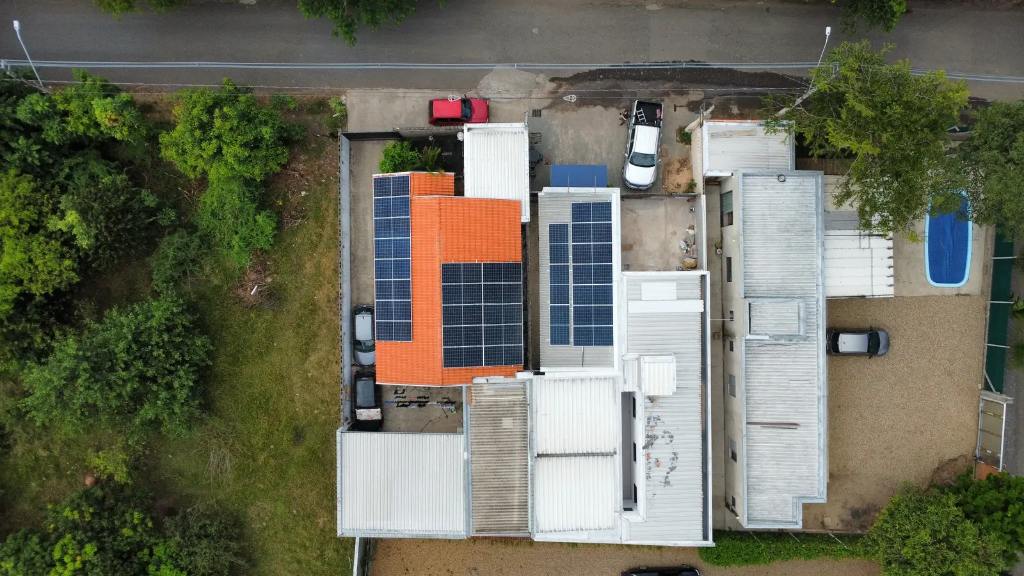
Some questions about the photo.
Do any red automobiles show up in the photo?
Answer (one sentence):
Yes, the photo shows a red automobile.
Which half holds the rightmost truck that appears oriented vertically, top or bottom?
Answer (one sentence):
You can find the rightmost truck that appears oriented vertically in the top half.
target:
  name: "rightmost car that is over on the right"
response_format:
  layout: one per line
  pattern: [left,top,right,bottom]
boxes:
[825,326,890,361]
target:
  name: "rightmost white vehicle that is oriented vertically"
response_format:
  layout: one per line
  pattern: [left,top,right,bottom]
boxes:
[625,100,664,188]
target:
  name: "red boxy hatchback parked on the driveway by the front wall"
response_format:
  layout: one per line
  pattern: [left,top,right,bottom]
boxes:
[428,92,489,124]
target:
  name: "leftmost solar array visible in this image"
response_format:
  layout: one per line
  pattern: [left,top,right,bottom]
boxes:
[374,173,412,343]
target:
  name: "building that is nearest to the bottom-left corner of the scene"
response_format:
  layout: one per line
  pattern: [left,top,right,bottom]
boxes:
[336,424,467,538]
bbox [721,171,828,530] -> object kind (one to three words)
house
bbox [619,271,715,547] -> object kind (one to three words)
house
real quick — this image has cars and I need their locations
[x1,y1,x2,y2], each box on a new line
[622,562,699,576]
[428,92,489,124]
[825,326,890,361]
[352,370,384,428]
[351,304,376,367]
